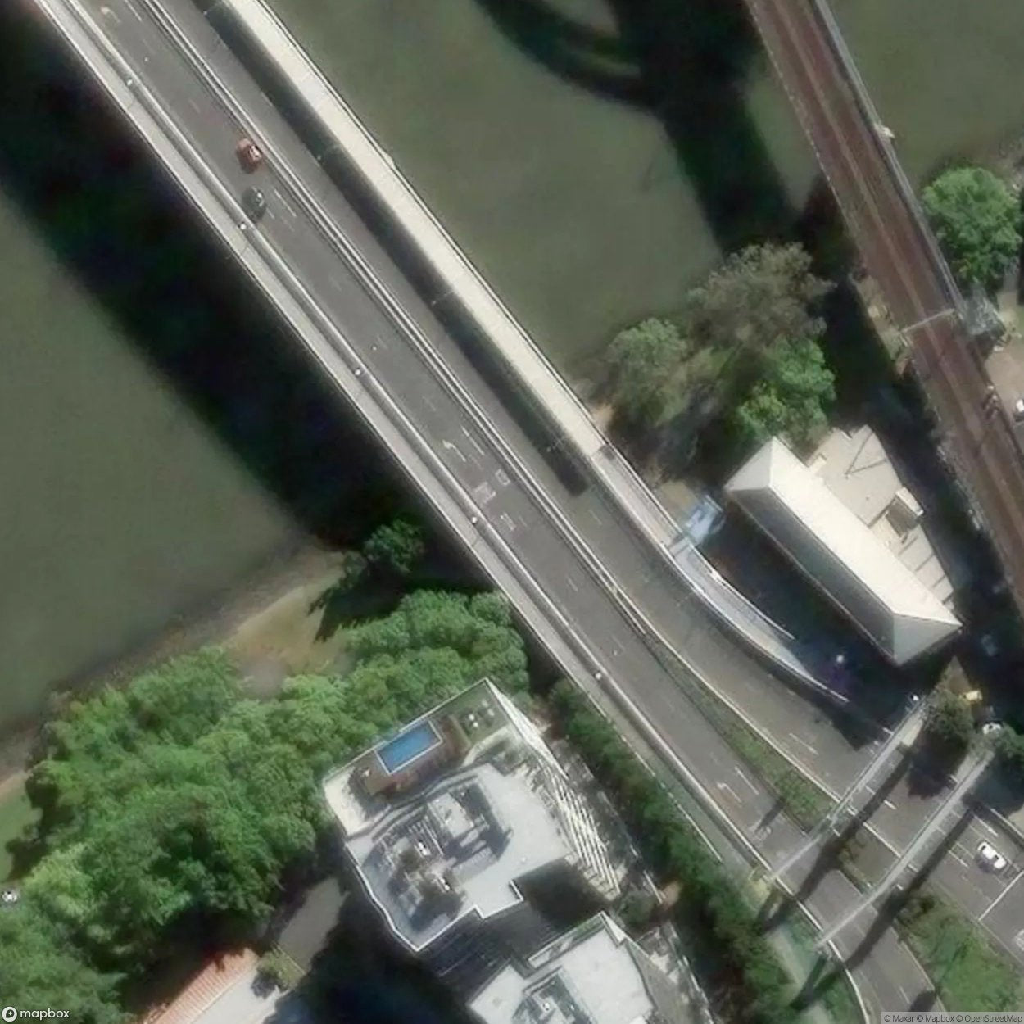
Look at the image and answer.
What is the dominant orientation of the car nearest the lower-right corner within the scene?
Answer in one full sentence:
The car nearest the lower-right corner has been laid out diagonally relative to the frame.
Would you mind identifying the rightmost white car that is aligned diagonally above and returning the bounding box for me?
[979,842,1007,869]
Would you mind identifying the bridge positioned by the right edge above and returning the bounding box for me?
[745,0,1024,609]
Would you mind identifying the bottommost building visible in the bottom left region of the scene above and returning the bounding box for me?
[150,944,298,1024]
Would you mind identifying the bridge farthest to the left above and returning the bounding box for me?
[34,0,680,649]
